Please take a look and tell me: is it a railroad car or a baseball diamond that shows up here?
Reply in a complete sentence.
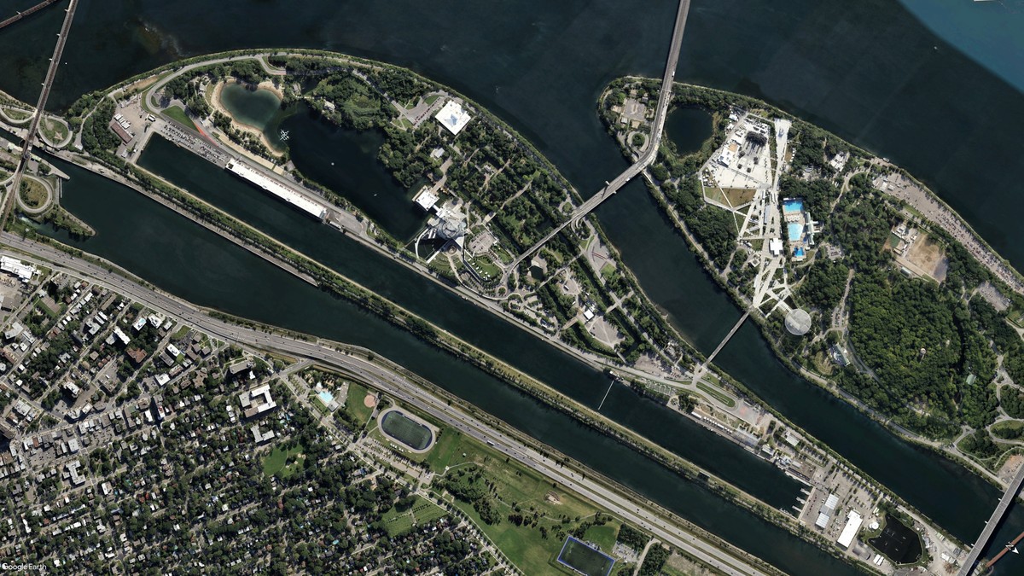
It is a baseball diamond that can be seen here.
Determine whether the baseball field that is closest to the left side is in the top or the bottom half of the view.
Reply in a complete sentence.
Seen from above, the baseball field that is closest to the left side lies in the bottom half of the view.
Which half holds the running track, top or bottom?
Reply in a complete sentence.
It is in the bottom half that the running track appears.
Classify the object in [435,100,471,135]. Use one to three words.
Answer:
building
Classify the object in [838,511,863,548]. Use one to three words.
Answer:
building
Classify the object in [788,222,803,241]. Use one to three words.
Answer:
swimming pool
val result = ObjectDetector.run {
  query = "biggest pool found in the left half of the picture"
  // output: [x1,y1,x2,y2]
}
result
[317,389,334,405]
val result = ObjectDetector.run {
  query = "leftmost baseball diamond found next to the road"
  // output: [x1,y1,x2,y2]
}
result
[347,382,378,421]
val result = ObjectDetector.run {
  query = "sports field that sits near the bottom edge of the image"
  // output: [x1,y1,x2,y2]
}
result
[557,535,615,576]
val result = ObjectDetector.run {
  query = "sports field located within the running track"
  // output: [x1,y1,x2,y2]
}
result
[383,410,430,449]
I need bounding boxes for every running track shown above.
[377,405,447,455]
